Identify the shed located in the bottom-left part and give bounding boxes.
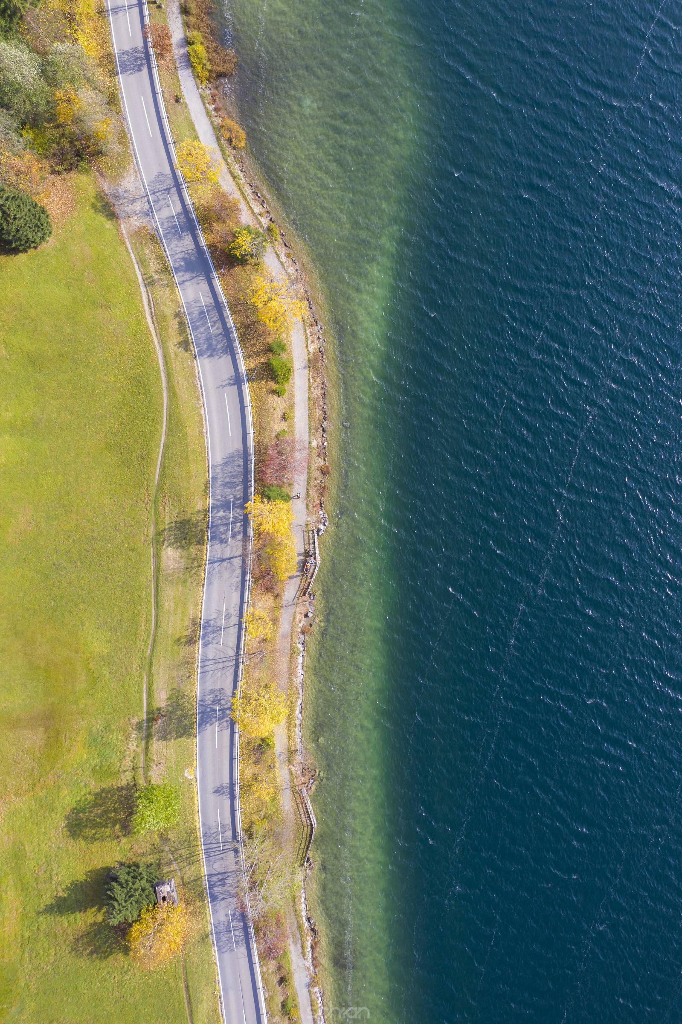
[156,872,181,905]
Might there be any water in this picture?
Yes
